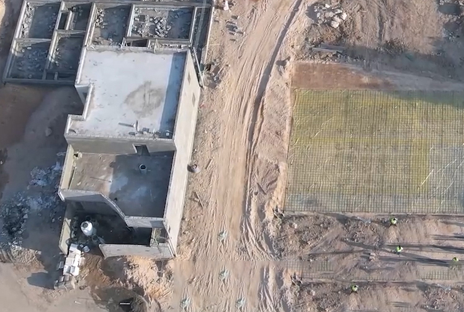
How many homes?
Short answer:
1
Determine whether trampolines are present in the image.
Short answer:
No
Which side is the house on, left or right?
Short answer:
left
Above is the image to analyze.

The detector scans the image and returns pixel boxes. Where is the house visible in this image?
[58,45,204,257]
